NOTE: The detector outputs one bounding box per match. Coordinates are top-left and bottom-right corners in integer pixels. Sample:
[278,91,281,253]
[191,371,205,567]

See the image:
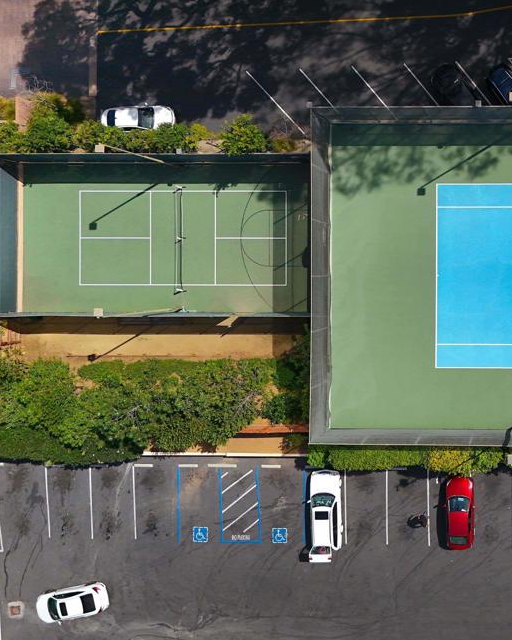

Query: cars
[304,470,342,560]
[103,99,177,134]
[444,62,498,106]
[443,475,476,549]
[39,580,112,625]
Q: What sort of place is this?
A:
sports ground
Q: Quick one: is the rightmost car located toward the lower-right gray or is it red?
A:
red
